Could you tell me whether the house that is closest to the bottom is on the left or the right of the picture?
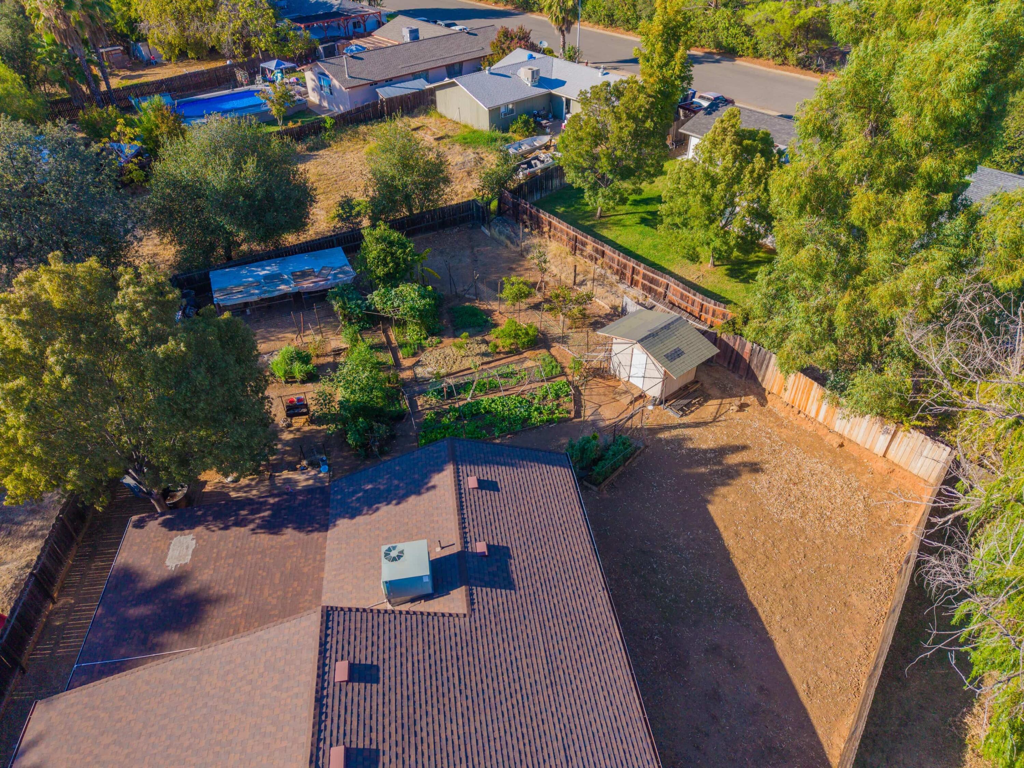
left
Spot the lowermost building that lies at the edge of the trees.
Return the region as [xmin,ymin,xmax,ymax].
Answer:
[5,439,665,768]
